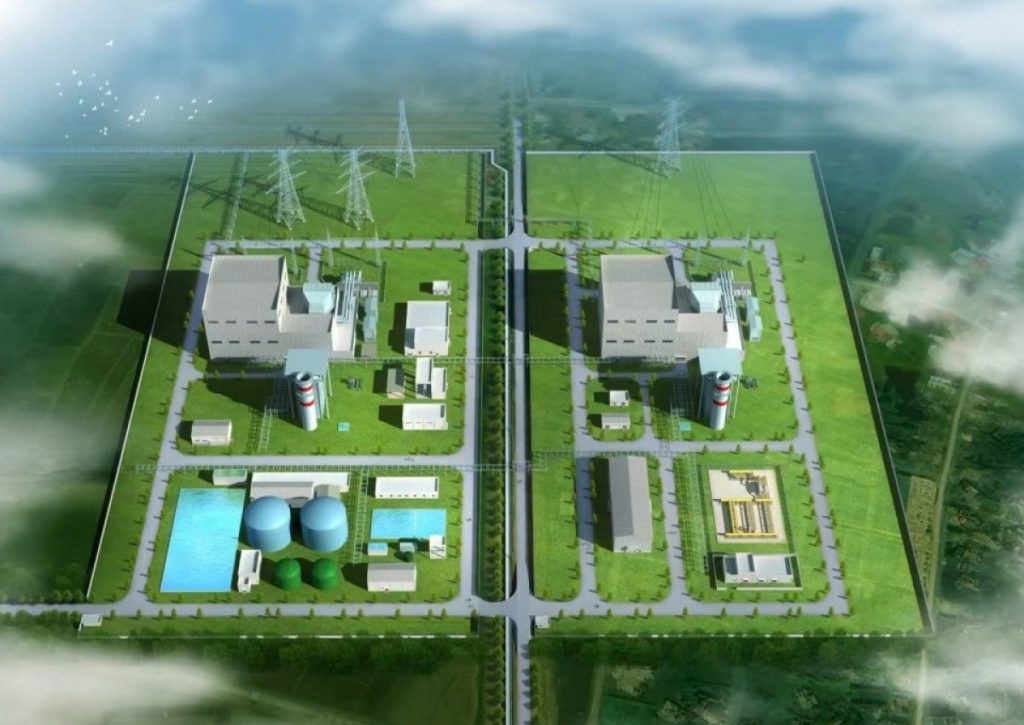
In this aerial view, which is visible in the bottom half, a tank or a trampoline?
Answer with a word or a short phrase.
tank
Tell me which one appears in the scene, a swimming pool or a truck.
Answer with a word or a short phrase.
swimming pool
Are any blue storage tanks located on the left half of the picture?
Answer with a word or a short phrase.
Yes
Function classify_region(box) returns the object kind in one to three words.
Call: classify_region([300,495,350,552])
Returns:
storage tank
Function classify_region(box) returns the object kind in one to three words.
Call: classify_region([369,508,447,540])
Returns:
swimming pool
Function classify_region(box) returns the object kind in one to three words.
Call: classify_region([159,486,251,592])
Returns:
swimming pool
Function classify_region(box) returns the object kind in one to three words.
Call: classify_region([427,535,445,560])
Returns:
building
